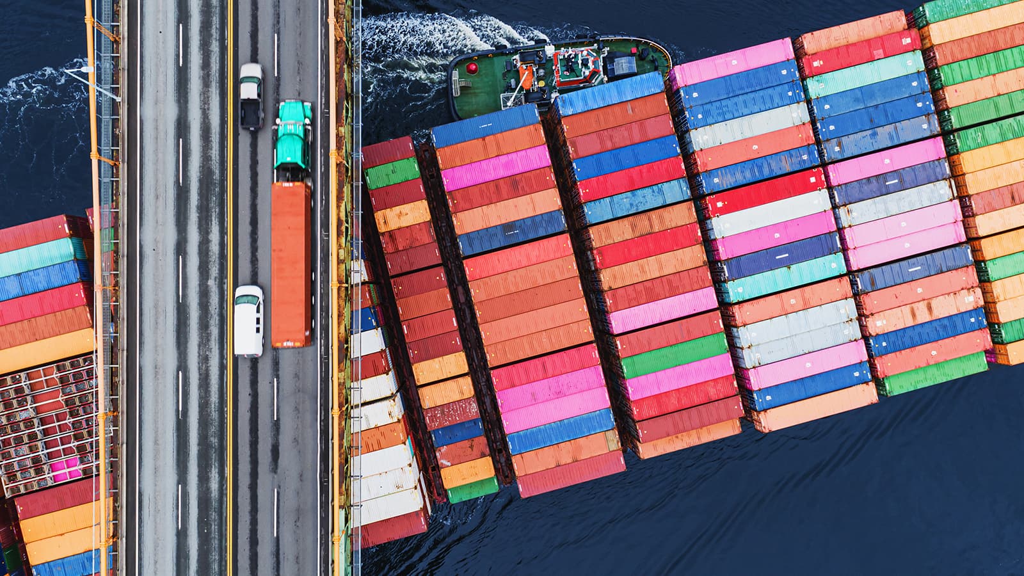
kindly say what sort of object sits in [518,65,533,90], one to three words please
boat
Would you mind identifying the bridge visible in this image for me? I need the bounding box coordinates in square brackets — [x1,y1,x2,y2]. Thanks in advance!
[85,0,364,576]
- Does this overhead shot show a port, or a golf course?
port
